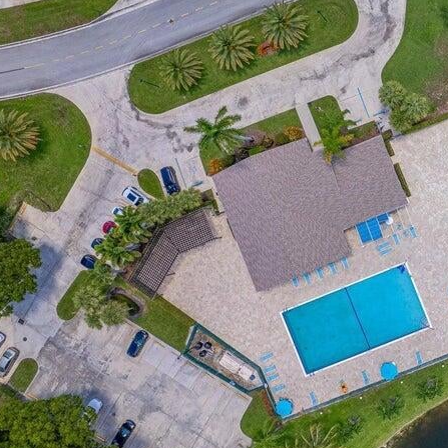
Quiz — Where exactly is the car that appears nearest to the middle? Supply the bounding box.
[157,163,178,193]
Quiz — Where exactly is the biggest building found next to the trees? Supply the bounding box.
[213,134,409,291]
